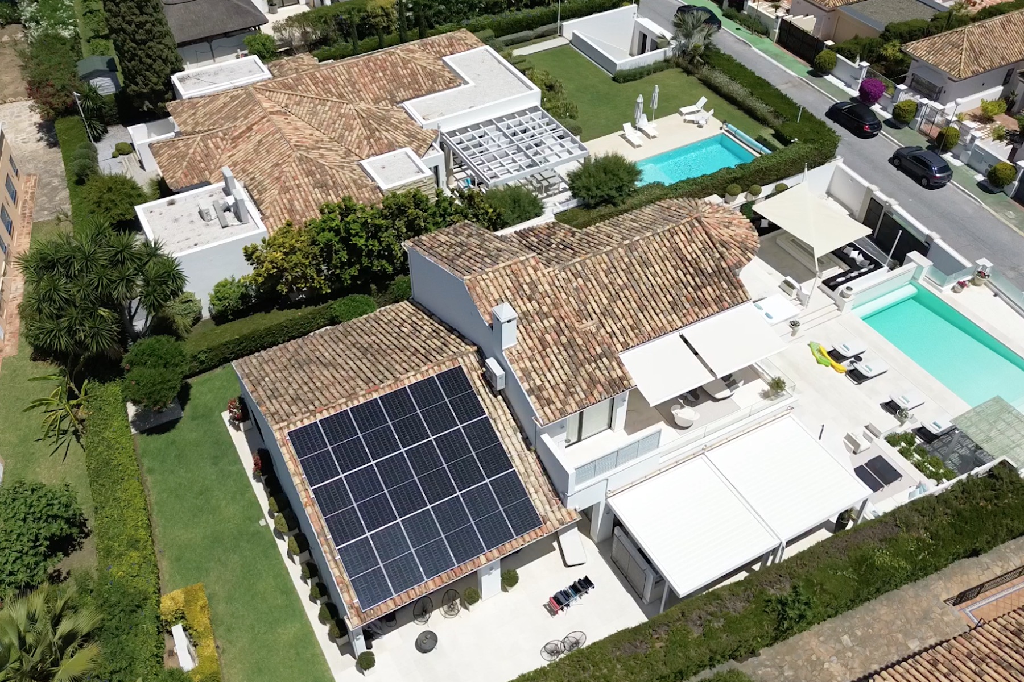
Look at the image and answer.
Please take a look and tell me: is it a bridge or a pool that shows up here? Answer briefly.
pool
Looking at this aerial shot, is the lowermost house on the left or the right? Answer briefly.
right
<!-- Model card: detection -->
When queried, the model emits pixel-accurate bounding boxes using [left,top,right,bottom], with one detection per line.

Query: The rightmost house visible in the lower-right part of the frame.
[873,585,1024,682]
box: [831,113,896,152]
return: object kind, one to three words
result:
car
